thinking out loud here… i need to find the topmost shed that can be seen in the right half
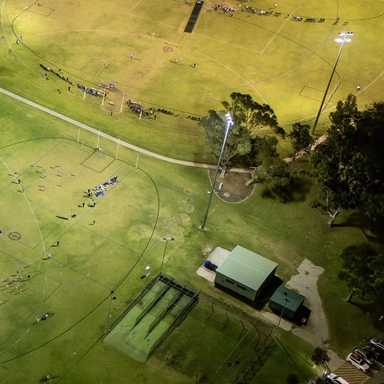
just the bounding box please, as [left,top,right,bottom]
[214,245,277,301]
